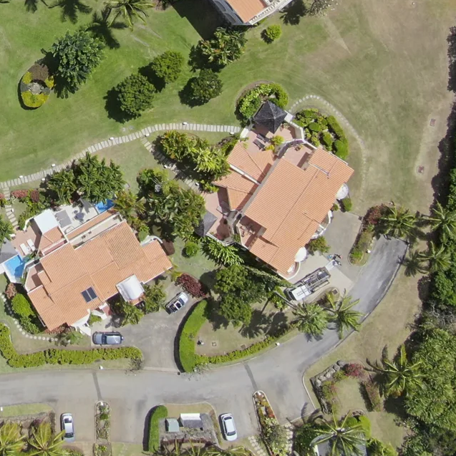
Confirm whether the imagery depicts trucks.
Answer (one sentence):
Yes, the image includes a truck.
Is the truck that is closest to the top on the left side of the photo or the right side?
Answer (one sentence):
The truck that is closest to the top sits on the right side.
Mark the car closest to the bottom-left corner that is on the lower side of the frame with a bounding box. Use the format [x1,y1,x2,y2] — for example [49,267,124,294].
[61,410,75,439]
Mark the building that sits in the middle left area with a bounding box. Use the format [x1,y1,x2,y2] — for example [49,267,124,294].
[0,205,172,331]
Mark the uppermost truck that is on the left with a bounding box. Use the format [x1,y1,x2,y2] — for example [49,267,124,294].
[162,288,191,315]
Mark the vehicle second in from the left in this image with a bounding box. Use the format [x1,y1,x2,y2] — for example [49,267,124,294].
[92,330,121,345]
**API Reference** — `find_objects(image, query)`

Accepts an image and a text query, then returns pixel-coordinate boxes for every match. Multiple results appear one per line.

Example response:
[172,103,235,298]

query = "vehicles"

[92,330,121,345]
[219,410,236,440]
[162,288,191,315]
[284,263,336,302]
[61,410,75,439]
